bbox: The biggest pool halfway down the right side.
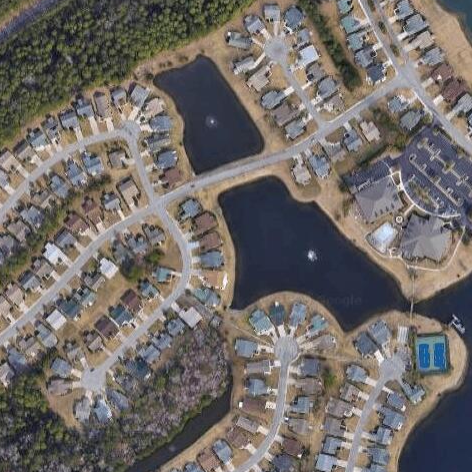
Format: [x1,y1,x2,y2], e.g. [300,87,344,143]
[367,220,400,253]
